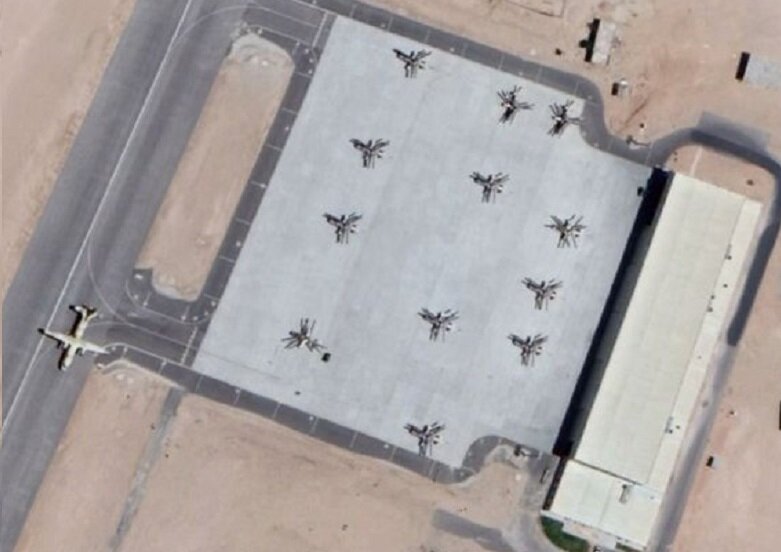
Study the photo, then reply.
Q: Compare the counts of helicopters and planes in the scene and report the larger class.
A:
helicopters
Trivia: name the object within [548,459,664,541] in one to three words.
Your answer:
building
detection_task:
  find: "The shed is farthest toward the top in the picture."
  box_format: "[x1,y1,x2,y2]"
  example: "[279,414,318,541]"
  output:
[588,20,617,65]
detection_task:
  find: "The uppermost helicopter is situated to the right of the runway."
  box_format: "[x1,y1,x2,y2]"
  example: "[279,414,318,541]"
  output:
[398,50,433,80]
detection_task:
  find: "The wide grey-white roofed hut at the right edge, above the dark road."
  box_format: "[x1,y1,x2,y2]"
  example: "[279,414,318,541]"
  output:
[741,53,781,91]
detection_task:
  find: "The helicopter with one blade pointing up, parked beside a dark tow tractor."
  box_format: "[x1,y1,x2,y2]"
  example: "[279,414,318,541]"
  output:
[291,319,325,349]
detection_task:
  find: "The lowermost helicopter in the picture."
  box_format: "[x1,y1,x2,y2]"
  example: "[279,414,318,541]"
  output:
[412,425,446,455]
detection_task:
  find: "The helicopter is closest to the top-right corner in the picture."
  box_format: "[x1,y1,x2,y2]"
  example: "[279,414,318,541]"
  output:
[552,101,582,136]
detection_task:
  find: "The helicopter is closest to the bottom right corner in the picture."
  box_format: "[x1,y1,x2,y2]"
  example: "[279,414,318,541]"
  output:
[516,337,548,366]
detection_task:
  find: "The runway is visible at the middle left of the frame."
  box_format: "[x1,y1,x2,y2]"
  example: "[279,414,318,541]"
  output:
[0,0,238,552]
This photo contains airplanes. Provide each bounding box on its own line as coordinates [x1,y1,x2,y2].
[46,306,108,371]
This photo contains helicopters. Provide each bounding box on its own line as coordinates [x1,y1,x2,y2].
[551,217,586,248]
[398,50,433,80]
[477,175,511,204]
[426,312,459,342]
[516,337,548,366]
[530,281,562,310]
[412,425,446,455]
[330,216,364,245]
[291,319,325,349]
[552,101,582,136]
[503,87,532,124]
[356,140,390,169]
